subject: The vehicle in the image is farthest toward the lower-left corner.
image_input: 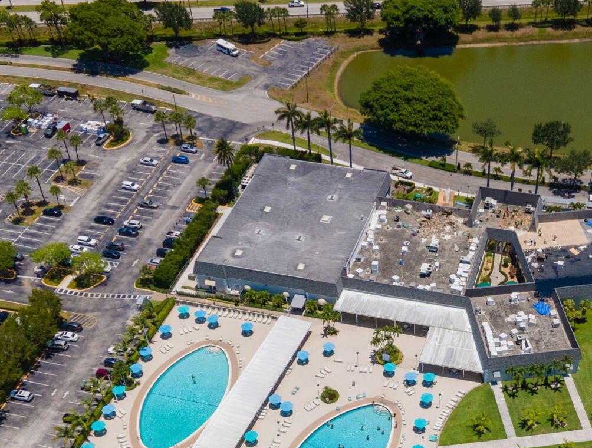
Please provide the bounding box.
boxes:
[8,389,35,404]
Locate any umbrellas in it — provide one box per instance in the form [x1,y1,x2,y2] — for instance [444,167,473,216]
[422,374,435,388]
[91,423,106,437]
[413,420,427,434]
[206,317,219,329]
[383,364,396,377]
[177,307,189,319]
[403,374,417,386]
[193,311,206,324]
[101,407,116,420]
[130,365,143,380]
[112,387,125,401]
[296,351,310,364]
[138,349,151,362]
[322,344,335,357]
[241,324,254,337]
[281,402,294,416]
[159,327,172,340]
[243,433,257,447]
[269,396,282,410]
[420,395,433,408]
